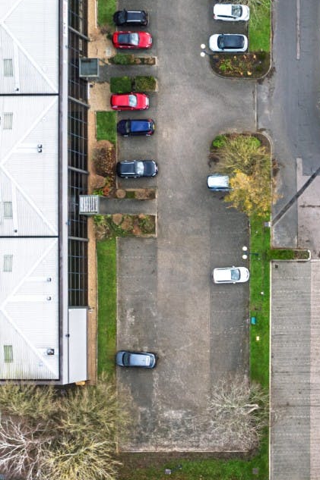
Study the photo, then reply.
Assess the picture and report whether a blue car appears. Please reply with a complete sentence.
Yes, you can see a blue car in this photo.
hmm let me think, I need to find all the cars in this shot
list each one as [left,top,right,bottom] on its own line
[212,4,250,21]
[111,91,151,110]
[112,30,153,49]
[113,8,149,27]
[119,118,157,136]
[213,267,250,283]
[209,173,237,190]
[210,32,249,51]
[117,159,159,178]
[118,350,159,368]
